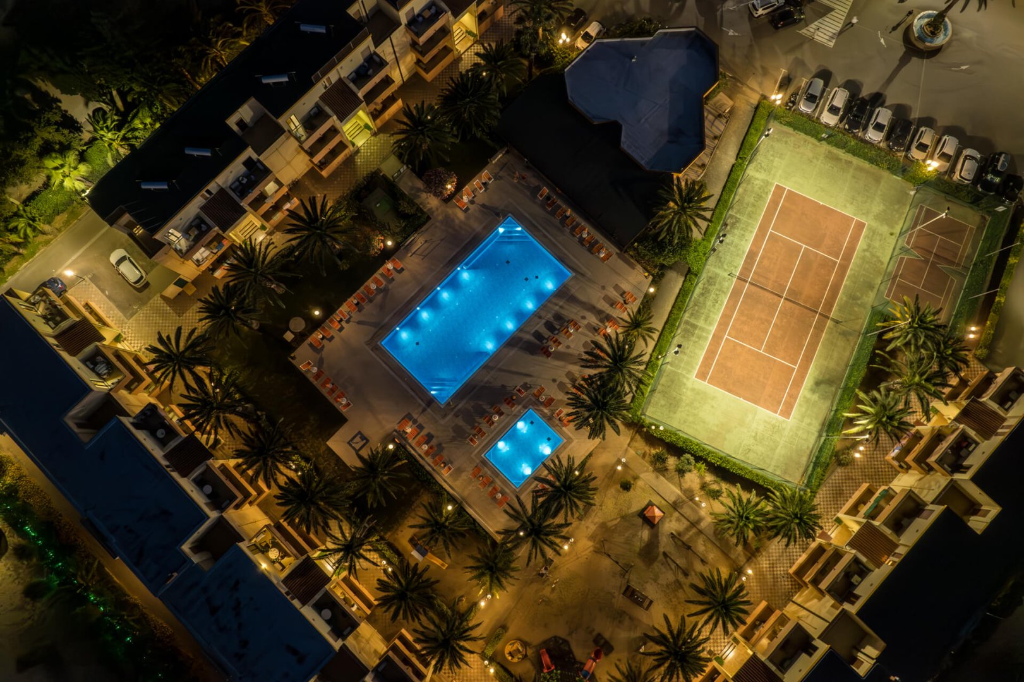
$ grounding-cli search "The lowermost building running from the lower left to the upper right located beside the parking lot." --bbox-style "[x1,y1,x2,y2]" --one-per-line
[694,373,1024,682]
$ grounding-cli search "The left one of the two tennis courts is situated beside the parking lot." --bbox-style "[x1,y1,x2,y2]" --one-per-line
[644,123,913,483]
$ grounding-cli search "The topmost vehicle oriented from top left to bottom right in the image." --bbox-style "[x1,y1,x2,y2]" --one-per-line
[111,249,148,288]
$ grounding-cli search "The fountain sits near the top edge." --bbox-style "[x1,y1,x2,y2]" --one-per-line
[913,9,957,50]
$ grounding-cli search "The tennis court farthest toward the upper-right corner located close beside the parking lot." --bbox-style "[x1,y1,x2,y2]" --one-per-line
[877,191,984,328]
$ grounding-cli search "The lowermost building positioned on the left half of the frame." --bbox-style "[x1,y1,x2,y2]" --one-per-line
[0,295,457,682]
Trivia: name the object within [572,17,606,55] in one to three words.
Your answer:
car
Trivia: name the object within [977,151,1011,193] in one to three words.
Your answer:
car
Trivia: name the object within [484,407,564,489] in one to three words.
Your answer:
swimming pool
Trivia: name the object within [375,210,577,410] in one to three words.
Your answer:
swimming pool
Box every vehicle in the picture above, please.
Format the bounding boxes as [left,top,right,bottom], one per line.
[977,151,1011,193]
[111,249,148,288]
[905,124,937,163]
[746,0,787,18]
[572,17,606,55]
[928,133,960,174]
[560,2,593,37]
[884,116,917,154]
[994,168,1024,206]
[951,147,983,186]
[769,4,808,33]
[862,106,893,145]
[841,96,872,135]
[777,82,806,116]
[797,76,826,116]
[819,87,850,127]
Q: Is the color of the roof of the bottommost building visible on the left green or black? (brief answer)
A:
black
